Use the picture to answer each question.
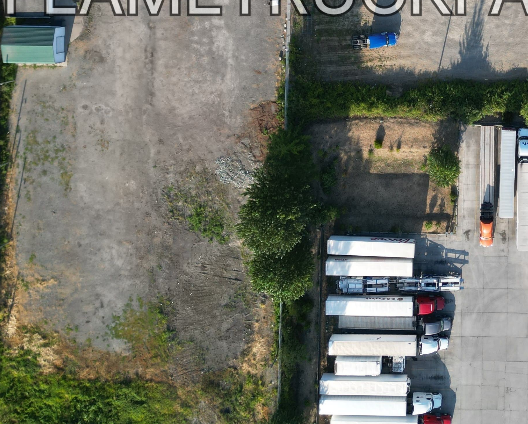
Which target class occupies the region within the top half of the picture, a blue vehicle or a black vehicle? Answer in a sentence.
The one visible within the top half of the picture is a blue vehicle.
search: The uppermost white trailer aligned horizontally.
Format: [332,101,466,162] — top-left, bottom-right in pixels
[327,234,415,257]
